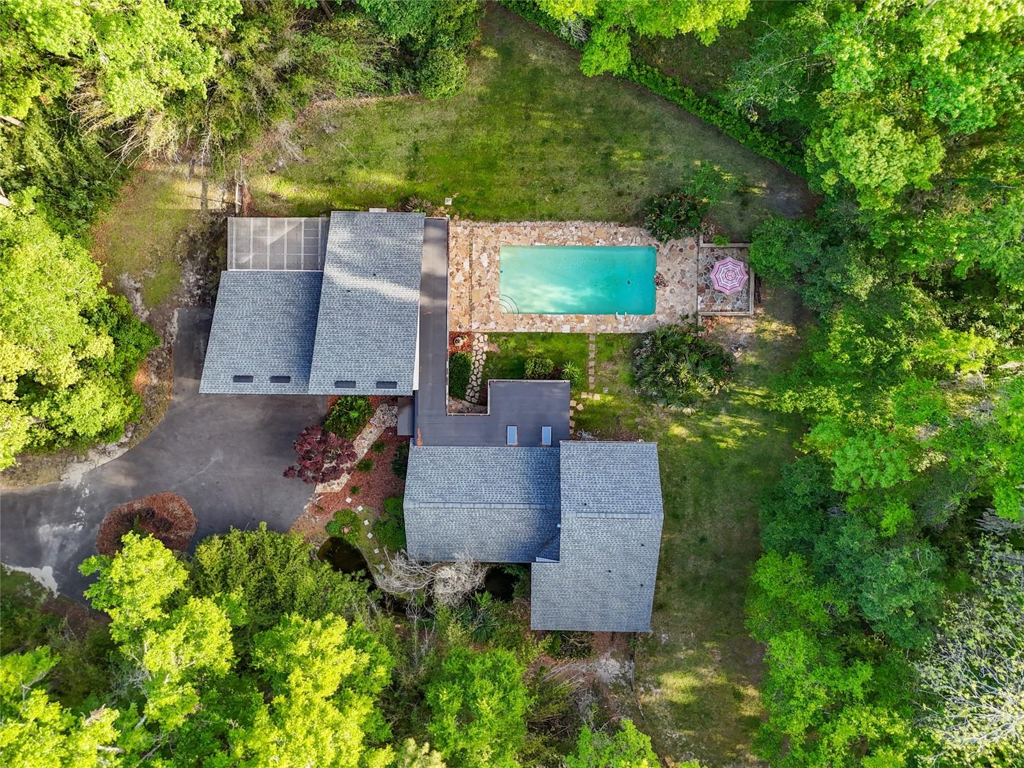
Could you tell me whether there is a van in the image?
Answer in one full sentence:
No, this view has no van in it.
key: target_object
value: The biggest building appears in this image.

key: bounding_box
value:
[199,208,664,631]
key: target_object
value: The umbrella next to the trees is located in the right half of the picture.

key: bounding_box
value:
[708,257,745,294]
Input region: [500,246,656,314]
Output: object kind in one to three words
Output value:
swimming pool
